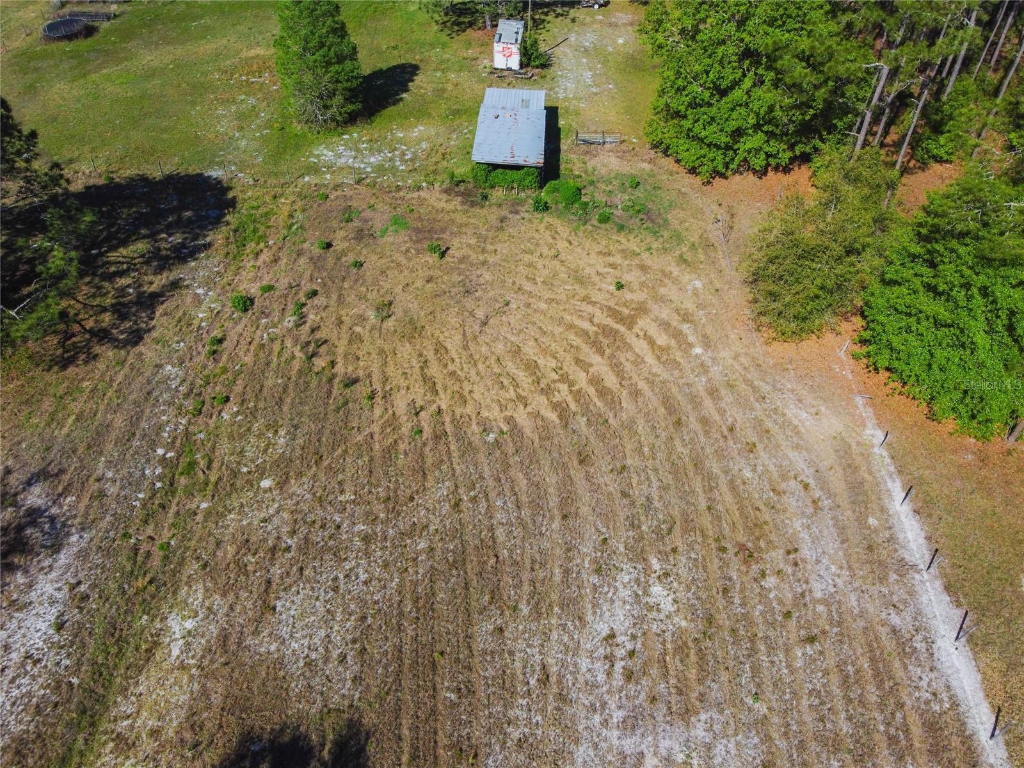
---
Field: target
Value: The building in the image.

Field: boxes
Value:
[472,88,545,190]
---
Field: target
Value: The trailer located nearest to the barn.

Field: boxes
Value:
[493,19,523,66]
